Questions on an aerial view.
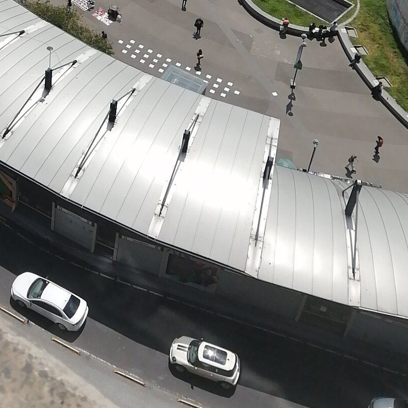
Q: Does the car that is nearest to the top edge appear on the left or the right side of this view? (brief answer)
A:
left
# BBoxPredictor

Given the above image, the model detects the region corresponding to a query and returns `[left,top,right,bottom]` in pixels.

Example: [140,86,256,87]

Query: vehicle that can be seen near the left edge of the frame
[10,276,91,333]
